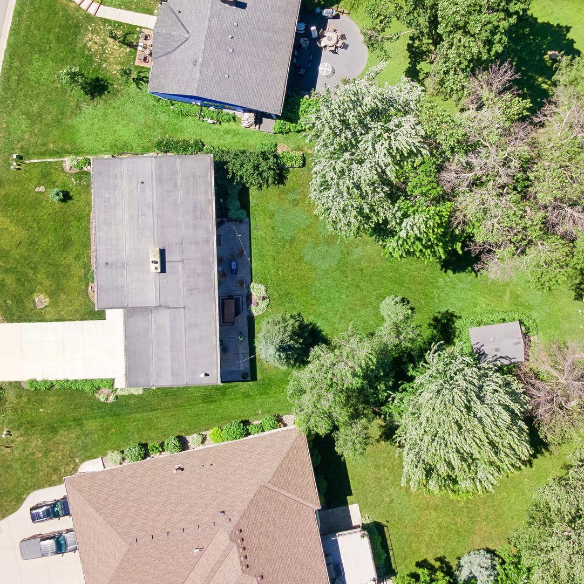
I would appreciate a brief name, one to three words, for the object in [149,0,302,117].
house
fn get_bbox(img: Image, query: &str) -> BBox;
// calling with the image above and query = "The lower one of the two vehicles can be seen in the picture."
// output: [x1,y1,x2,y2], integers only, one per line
[21,529,78,561]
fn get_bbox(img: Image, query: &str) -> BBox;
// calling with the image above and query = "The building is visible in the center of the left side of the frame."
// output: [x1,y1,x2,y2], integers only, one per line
[91,154,221,389]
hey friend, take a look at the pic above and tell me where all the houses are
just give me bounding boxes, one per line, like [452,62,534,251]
[91,154,221,389]
[63,425,330,584]
[149,0,302,117]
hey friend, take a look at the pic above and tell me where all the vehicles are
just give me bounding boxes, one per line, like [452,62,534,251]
[21,529,78,561]
[30,499,71,525]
